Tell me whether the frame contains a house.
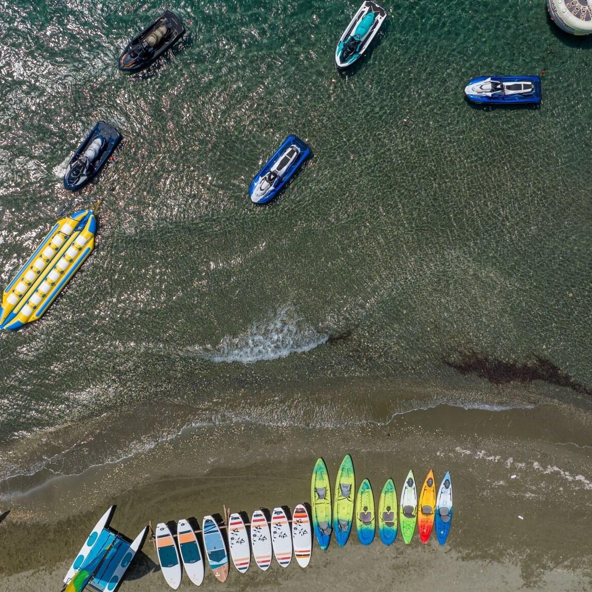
No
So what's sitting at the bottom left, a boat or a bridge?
boat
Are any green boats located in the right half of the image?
Yes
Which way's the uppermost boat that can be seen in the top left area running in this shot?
on a diagonal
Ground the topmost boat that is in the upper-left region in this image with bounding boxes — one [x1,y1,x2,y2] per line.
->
[119,13,183,71]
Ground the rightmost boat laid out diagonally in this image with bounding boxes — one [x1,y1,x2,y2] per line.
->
[335,3,385,70]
